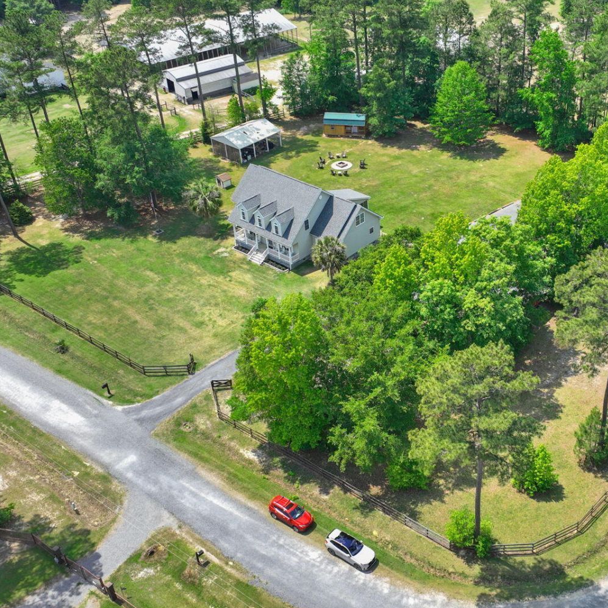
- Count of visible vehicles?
2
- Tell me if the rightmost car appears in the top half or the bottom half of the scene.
bottom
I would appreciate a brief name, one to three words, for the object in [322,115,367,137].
building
